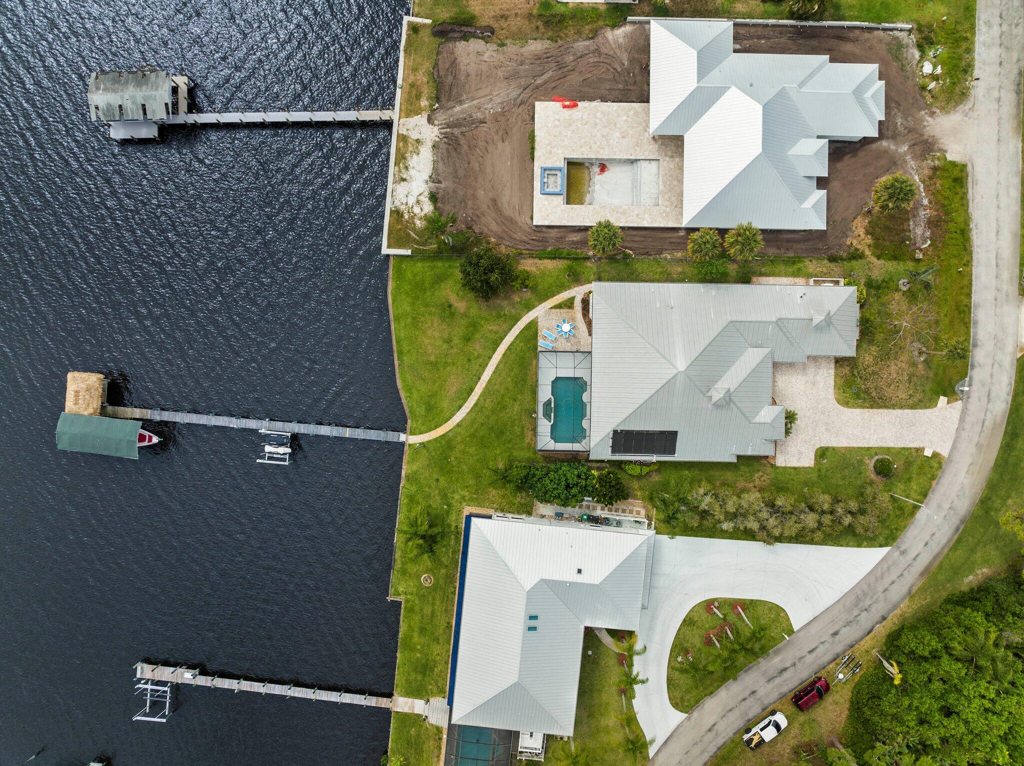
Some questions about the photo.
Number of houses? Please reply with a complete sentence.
I count 3 houses.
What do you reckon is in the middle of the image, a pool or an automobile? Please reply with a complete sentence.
The feature located in the middle of the image is a pool.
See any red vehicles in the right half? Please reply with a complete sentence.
Yes, you'll find a red vehicle in the right half.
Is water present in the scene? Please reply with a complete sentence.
Yes, water shows up in the scene.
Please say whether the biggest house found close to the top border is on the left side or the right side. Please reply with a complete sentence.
It is on the right.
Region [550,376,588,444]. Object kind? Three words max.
swimming pool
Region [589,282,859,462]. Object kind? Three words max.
house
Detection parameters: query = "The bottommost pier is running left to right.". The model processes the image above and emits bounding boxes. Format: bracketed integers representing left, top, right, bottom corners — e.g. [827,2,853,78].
[132,657,430,719]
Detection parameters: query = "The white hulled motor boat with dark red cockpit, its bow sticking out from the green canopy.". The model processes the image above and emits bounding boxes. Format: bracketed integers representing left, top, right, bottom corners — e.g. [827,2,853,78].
[137,429,162,446]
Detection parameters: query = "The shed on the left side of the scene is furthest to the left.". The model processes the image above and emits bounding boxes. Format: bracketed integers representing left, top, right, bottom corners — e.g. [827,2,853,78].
[64,370,118,417]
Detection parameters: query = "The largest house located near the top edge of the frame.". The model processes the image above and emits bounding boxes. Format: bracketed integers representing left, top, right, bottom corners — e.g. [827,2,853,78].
[649,19,886,231]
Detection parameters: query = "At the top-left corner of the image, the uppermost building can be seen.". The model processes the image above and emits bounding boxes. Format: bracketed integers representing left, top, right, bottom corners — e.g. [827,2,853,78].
[87,70,183,133]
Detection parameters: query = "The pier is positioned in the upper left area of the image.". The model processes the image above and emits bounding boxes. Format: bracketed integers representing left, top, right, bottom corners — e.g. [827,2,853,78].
[102,73,395,143]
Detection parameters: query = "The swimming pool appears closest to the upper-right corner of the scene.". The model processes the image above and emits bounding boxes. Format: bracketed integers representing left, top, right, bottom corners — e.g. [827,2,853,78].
[565,159,659,206]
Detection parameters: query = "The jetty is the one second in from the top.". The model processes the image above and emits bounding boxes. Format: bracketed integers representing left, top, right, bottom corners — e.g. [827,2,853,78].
[102,405,406,445]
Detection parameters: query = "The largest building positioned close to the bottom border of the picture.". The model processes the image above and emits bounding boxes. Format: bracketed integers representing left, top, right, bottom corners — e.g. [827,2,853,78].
[451,515,656,738]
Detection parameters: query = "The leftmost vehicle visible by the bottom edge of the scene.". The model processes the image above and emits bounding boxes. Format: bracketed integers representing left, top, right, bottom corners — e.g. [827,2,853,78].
[741,711,786,751]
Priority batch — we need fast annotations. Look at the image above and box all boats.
[266,435,291,443]
[265,445,291,454]
[137,429,162,446]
